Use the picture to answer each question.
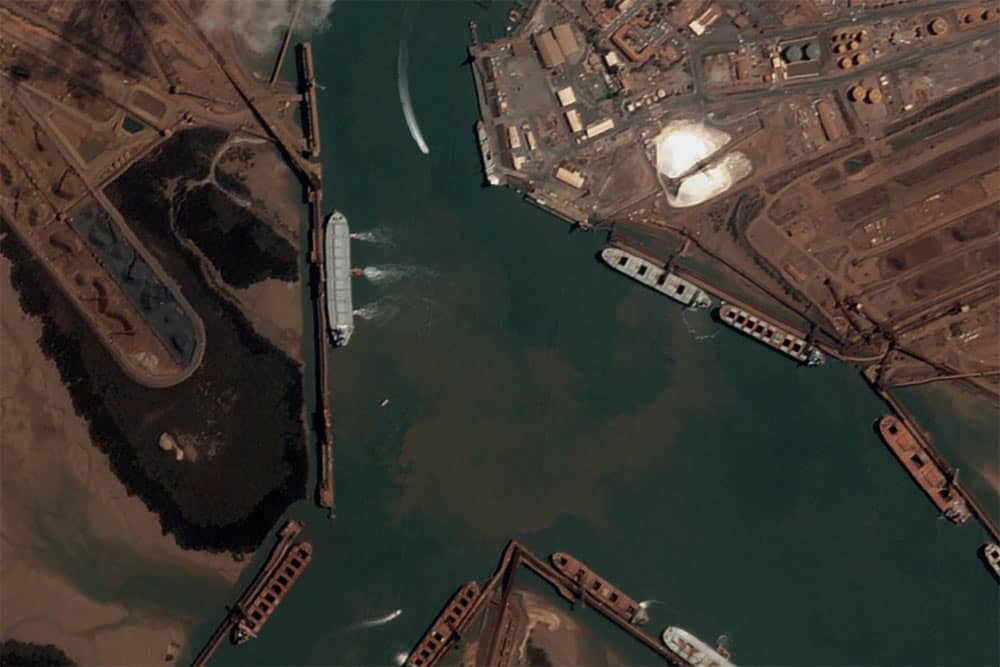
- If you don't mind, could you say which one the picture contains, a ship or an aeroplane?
ship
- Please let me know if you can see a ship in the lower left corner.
Yes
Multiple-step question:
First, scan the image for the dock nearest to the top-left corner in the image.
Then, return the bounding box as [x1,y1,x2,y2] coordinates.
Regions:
[302,42,320,155]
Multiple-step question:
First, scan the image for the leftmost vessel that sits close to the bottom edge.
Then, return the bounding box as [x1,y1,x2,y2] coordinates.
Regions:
[232,542,312,645]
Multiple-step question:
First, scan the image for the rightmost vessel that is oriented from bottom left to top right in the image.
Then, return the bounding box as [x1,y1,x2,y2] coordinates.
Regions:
[401,581,479,667]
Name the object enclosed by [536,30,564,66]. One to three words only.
building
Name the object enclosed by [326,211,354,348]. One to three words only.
ship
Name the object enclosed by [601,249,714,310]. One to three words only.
ship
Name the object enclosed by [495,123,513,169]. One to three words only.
shed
